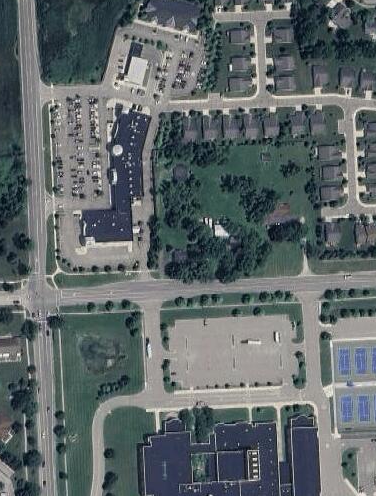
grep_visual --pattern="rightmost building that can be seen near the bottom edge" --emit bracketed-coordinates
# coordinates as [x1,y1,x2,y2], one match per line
[143,415,320,496]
